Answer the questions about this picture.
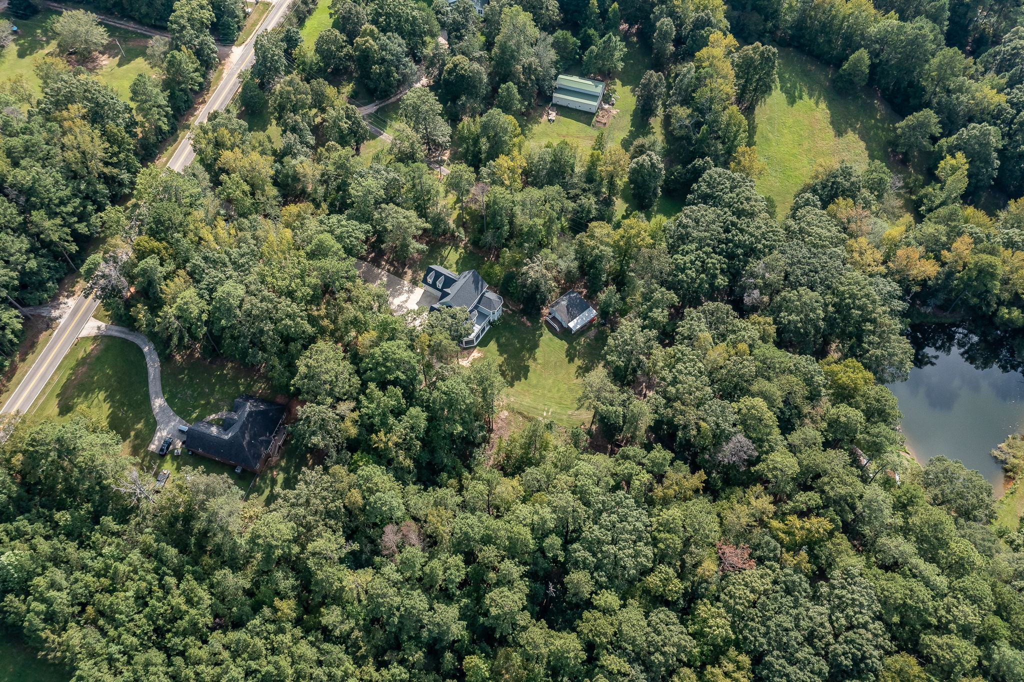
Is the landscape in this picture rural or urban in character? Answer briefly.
rural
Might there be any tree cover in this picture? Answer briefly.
Yes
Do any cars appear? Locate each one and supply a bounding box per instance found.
[155,436,175,454]
[173,422,192,433]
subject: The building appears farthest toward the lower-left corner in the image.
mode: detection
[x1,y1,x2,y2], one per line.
[184,394,289,472]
